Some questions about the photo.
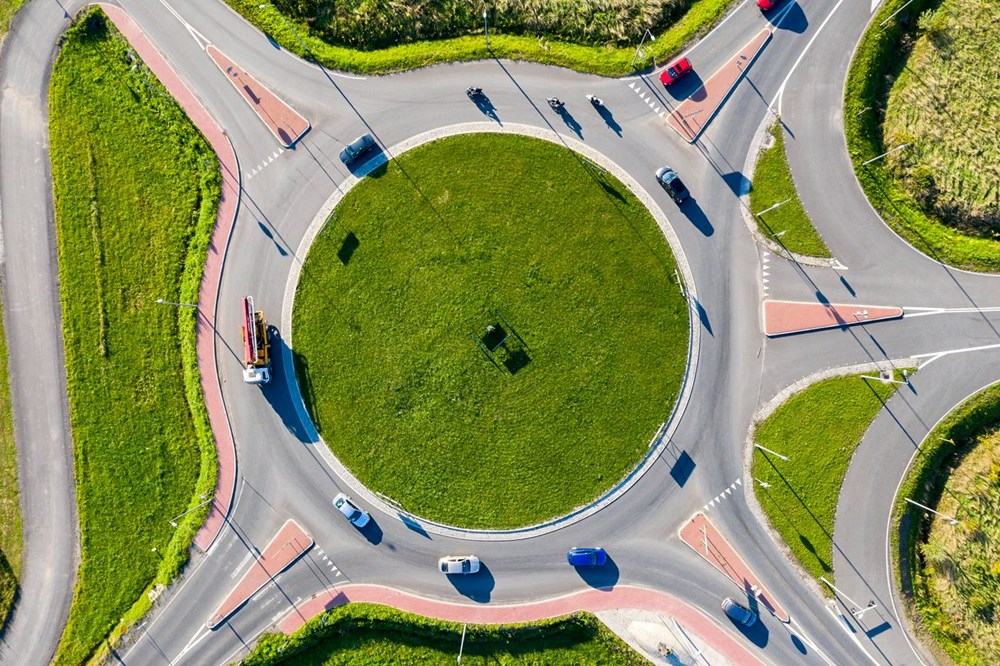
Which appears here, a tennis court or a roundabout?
roundabout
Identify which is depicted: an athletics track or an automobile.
automobile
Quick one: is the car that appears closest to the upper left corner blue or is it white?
blue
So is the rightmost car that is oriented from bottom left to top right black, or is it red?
red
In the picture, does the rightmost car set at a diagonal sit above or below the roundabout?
below it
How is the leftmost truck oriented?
vertically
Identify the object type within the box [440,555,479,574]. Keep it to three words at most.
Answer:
car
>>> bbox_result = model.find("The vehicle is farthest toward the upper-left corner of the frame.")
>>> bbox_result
[338,133,375,166]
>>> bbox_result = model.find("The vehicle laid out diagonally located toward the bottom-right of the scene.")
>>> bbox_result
[722,595,755,626]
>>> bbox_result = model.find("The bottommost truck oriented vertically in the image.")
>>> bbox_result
[242,302,274,384]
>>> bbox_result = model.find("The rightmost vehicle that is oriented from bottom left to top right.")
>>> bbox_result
[658,58,694,87]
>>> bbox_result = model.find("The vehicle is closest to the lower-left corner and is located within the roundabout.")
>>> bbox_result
[333,491,370,525]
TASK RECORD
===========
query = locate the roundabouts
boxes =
[232,72,748,589]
